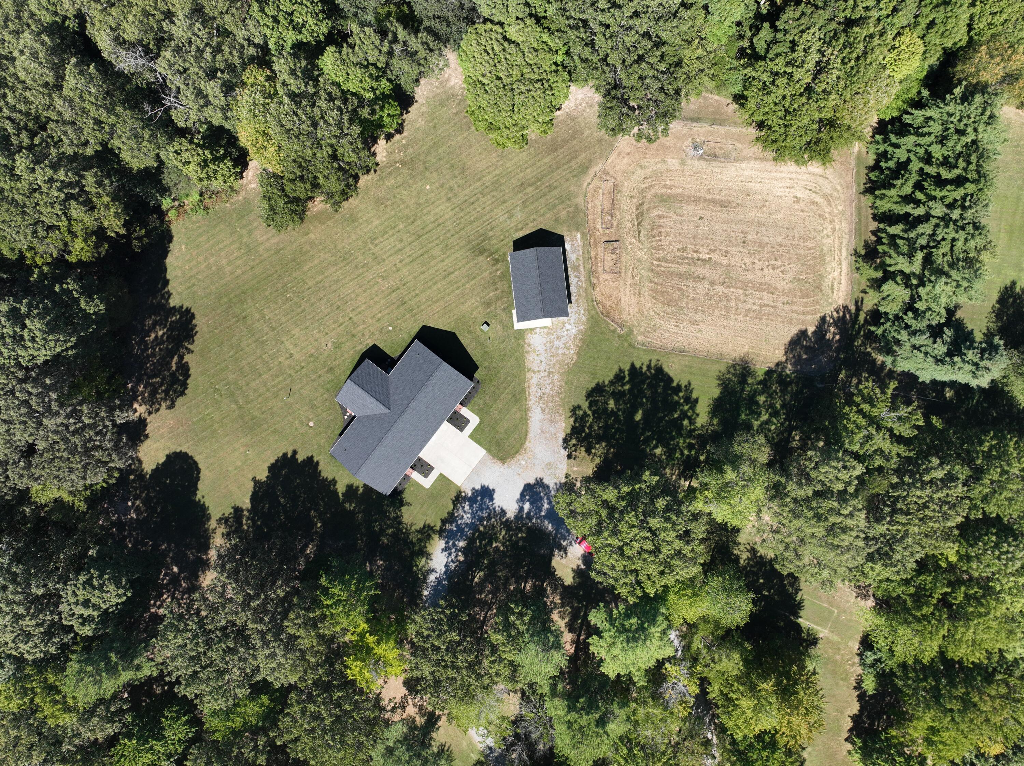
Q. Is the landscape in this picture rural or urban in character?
rural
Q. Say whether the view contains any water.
No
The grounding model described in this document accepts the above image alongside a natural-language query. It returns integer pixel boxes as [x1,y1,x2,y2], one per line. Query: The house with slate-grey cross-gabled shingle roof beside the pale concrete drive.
[330,339,474,497]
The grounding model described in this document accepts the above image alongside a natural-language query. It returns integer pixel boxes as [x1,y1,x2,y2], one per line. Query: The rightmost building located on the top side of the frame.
[508,246,570,323]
